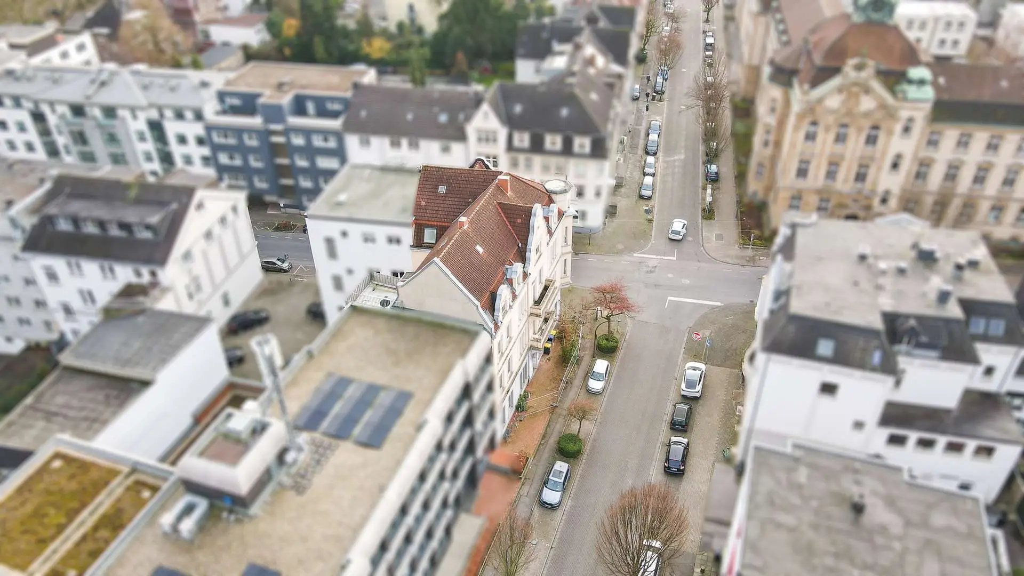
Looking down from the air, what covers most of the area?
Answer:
buildings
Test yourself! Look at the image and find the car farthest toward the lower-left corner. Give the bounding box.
[220,345,255,365]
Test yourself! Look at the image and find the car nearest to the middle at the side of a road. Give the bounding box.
[586,361,611,394]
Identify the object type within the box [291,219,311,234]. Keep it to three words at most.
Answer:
car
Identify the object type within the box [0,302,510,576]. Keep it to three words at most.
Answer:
building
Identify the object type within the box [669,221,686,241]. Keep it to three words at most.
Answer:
car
